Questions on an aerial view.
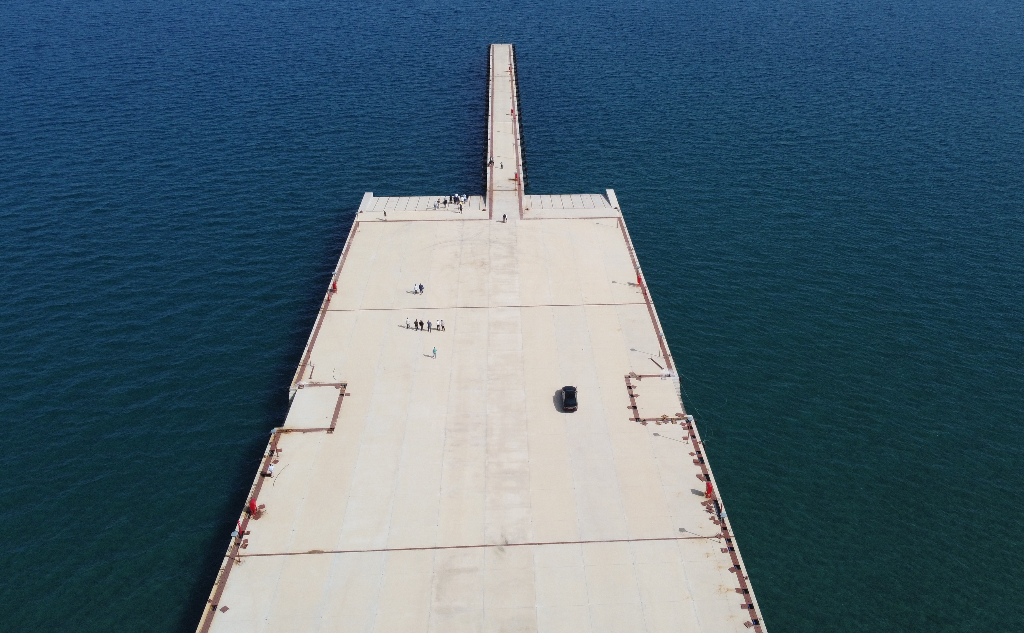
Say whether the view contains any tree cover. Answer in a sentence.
No, no tree cover is visible.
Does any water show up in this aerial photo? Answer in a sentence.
Yes, water can be seen from above here.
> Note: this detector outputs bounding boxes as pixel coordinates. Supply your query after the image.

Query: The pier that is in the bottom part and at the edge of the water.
[196,208,767,633]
